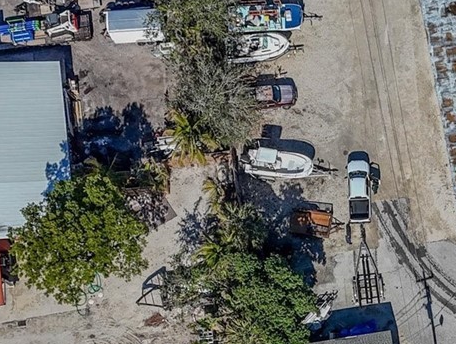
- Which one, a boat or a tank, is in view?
boat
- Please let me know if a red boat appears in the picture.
No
